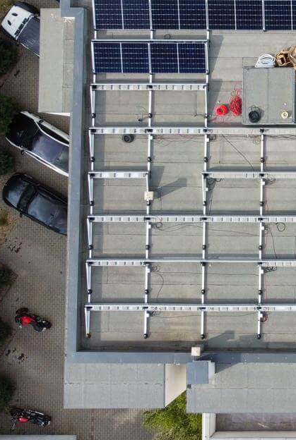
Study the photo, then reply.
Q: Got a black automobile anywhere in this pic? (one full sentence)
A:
Yes, I can see a black automobile in this picture.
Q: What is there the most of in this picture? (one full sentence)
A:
For the most part, this view shows buildings.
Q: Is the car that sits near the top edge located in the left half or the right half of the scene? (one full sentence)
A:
It is on the left.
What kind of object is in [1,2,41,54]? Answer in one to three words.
car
